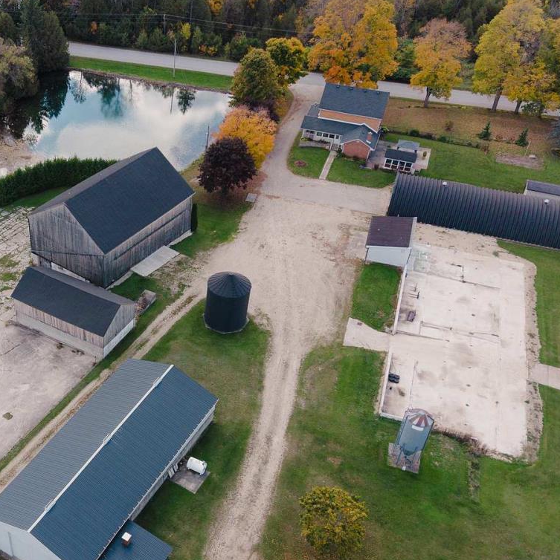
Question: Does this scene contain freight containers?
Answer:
No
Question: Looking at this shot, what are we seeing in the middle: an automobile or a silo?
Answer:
silo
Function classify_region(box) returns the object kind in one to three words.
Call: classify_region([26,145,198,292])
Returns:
barn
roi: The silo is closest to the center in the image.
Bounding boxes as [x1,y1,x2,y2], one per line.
[201,270,256,337]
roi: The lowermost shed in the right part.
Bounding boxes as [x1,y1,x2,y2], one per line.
[362,218,409,266]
